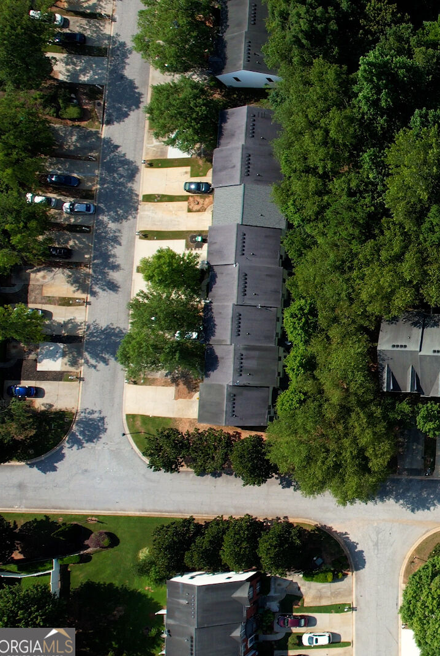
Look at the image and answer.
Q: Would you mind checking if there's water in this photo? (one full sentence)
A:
No, there's no water in this view.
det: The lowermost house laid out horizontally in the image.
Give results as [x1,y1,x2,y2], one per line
[164,614,260,656]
